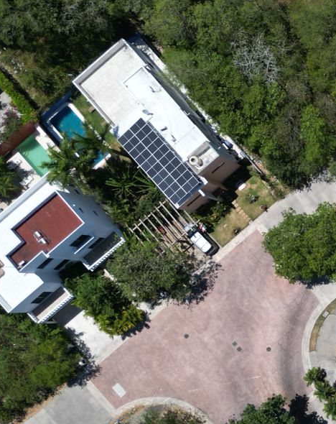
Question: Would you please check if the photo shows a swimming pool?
Yes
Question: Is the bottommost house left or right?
left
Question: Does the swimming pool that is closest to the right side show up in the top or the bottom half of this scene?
top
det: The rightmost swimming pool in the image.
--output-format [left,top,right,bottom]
[45,102,114,172]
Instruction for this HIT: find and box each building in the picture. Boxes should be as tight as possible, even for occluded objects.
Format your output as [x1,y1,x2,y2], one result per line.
[74,39,241,213]
[0,172,125,323]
